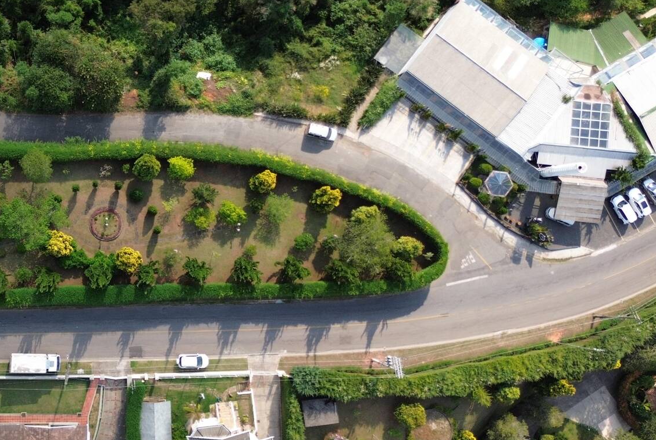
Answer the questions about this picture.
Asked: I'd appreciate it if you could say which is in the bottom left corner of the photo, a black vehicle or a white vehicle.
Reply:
white vehicle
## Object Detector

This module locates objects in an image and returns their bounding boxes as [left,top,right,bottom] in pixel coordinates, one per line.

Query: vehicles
[639,177,656,204]
[10,354,61,373]
[305,124,336,141]
[539,209,570,228]
[624,188,652,217]
[612,199,636,225]
[177,354,209,370]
